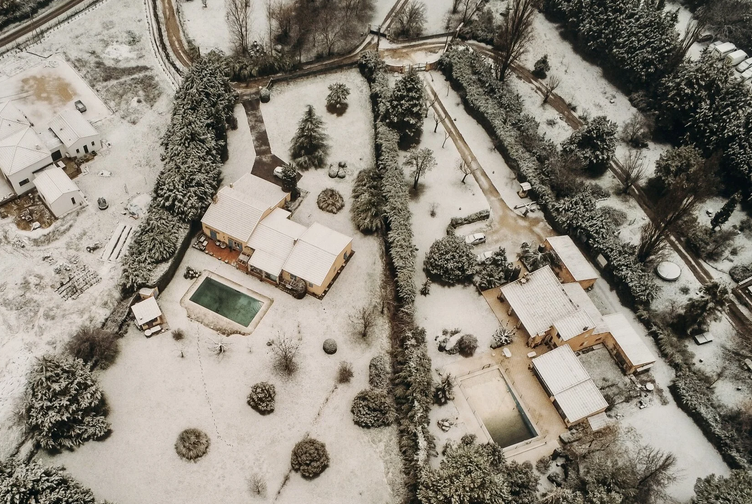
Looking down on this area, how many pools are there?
two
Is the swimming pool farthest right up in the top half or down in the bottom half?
bottom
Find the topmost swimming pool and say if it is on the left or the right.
left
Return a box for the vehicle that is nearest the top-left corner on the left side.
[73,99,88,113]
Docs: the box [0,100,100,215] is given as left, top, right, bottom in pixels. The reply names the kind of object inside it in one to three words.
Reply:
house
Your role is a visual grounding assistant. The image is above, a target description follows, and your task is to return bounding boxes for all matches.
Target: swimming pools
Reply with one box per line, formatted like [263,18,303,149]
[455,362,545,452]
[183,272,270,331]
